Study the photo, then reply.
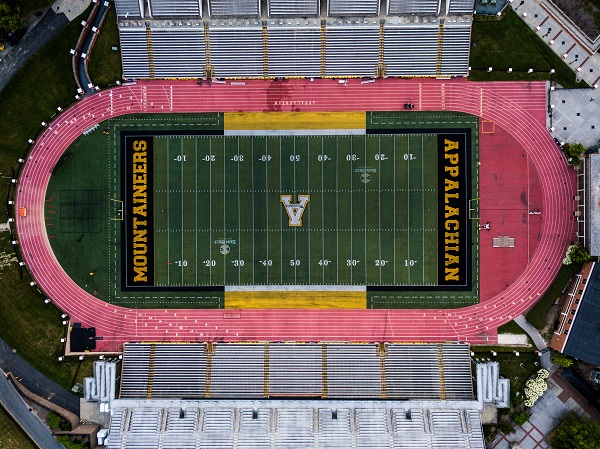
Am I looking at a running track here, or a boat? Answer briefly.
running track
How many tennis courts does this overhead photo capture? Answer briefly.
0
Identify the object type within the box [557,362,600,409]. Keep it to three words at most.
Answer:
shed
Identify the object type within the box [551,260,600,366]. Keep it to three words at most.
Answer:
building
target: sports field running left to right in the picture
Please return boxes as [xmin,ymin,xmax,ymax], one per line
[45,112,479,309]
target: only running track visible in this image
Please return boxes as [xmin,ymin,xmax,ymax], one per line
[16,81,578,352]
